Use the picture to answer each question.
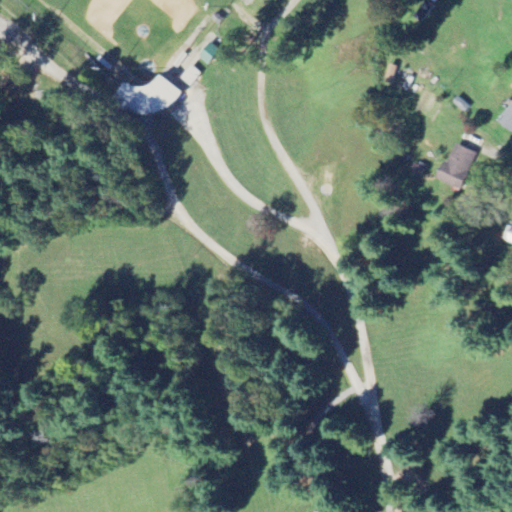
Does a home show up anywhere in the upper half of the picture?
Yes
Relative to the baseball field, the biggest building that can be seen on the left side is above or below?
below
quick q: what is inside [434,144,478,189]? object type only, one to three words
house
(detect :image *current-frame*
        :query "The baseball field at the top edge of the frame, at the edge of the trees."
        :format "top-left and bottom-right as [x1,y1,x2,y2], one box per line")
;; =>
[86,0,198,74]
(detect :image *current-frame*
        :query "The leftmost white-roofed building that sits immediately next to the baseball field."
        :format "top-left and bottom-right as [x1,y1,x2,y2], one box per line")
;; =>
[143,74,182,110]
